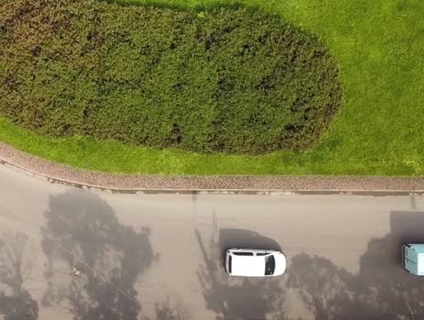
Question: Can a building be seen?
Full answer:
No, the picture doesn't show any building.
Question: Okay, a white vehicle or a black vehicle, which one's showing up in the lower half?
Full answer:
What appears in the lower half is a white vehicle.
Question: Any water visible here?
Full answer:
No, there is no water in the image.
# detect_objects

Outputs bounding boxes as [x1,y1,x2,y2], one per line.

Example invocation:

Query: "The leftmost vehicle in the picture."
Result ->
[226,247,287,280]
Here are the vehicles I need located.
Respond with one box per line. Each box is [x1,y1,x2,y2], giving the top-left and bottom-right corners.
[400,242,424,276]
[226,247,287,280]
